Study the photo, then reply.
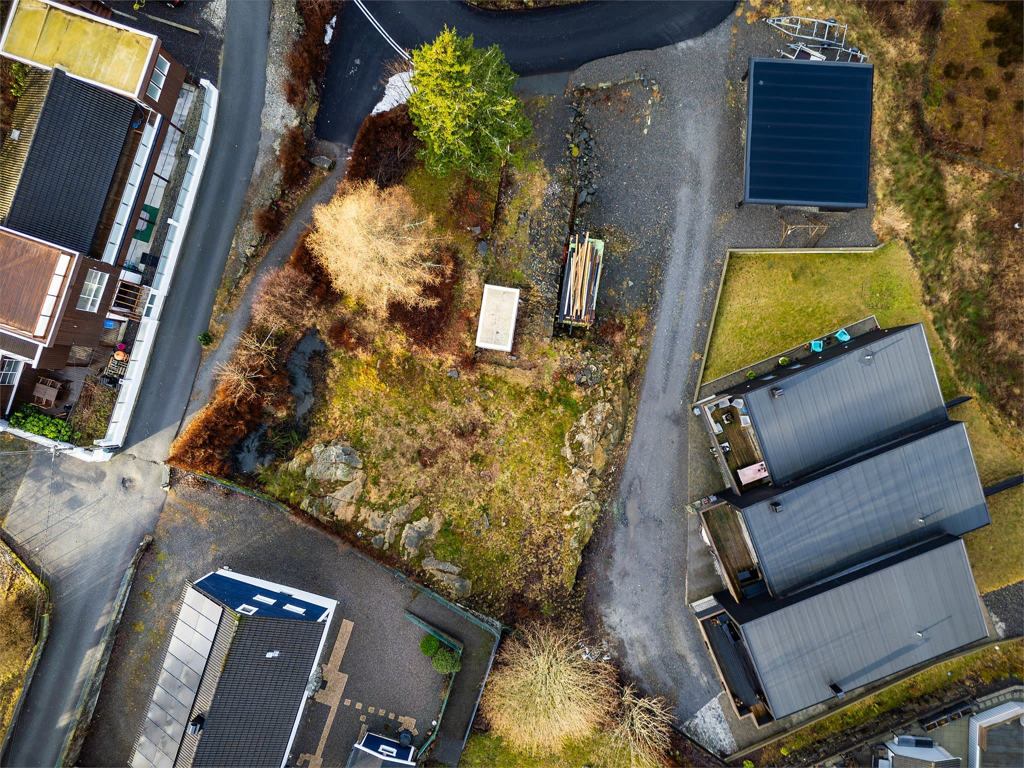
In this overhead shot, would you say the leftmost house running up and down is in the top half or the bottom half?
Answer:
top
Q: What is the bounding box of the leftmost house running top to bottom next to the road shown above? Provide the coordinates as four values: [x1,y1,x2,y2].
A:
[0,0,194,415]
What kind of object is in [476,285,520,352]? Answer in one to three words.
shed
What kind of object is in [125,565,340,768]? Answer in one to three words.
house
